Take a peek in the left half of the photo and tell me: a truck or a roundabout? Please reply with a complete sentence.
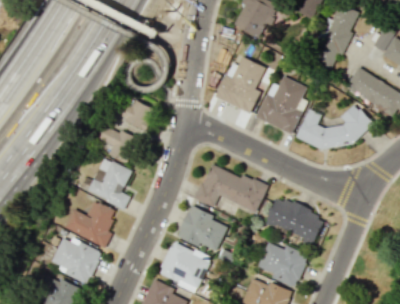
It is a truck that can be seen in the left half of the photo.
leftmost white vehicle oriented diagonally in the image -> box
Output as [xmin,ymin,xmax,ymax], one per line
[28,108,61,146]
